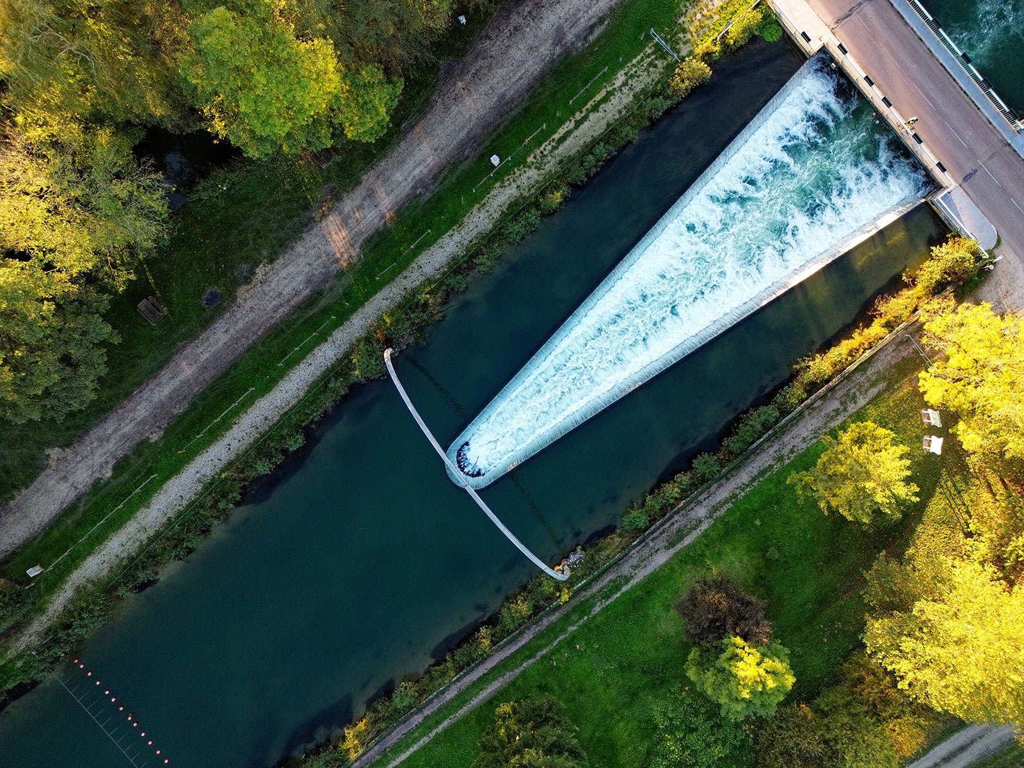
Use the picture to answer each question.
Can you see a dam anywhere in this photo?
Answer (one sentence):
Yes, there's a dam down there.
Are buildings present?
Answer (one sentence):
No, the frame has no building in it.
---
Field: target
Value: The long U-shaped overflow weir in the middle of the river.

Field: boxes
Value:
[445,58,926,489]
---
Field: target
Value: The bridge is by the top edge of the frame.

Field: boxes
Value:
[764,0,1024,259]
